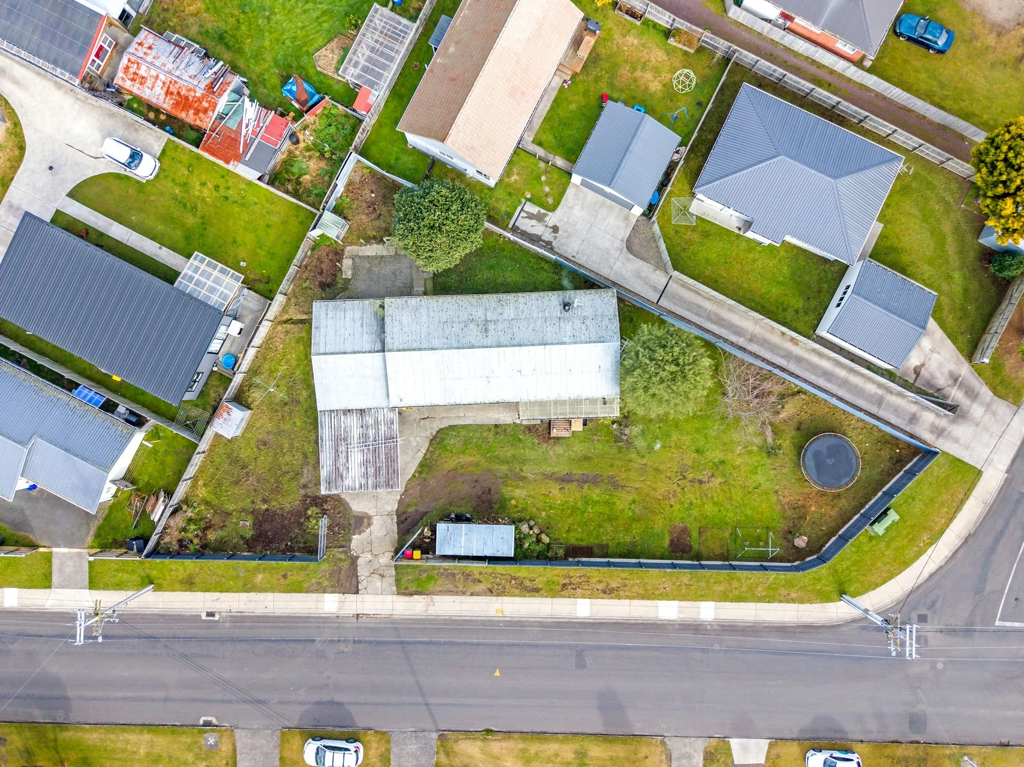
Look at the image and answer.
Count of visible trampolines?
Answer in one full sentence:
The count comes to 1 trampoline.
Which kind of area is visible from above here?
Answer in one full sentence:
What you see here is a residential area.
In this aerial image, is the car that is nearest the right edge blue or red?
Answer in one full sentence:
The color of the car that is nearest the right edge is blue.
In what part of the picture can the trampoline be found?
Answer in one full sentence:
You can find the trampoline in the right area of the picture.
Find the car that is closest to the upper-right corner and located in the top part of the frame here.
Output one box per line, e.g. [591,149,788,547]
[890,15,955,54]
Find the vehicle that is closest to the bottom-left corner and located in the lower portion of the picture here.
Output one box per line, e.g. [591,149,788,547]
[304,736,365,767]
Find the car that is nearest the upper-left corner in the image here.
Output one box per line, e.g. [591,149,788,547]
[98,134,165,184]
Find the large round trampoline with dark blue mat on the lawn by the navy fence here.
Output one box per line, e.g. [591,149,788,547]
[797,432,860,491]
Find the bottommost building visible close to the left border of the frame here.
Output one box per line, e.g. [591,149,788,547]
[0,349,155,515]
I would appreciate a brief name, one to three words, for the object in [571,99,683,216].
building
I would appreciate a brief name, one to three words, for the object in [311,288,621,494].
house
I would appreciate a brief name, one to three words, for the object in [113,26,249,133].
shed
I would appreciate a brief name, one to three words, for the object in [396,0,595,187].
house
